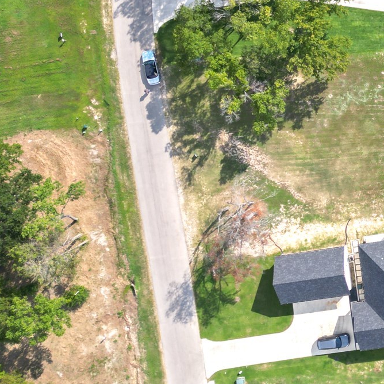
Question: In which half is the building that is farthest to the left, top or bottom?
bottom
